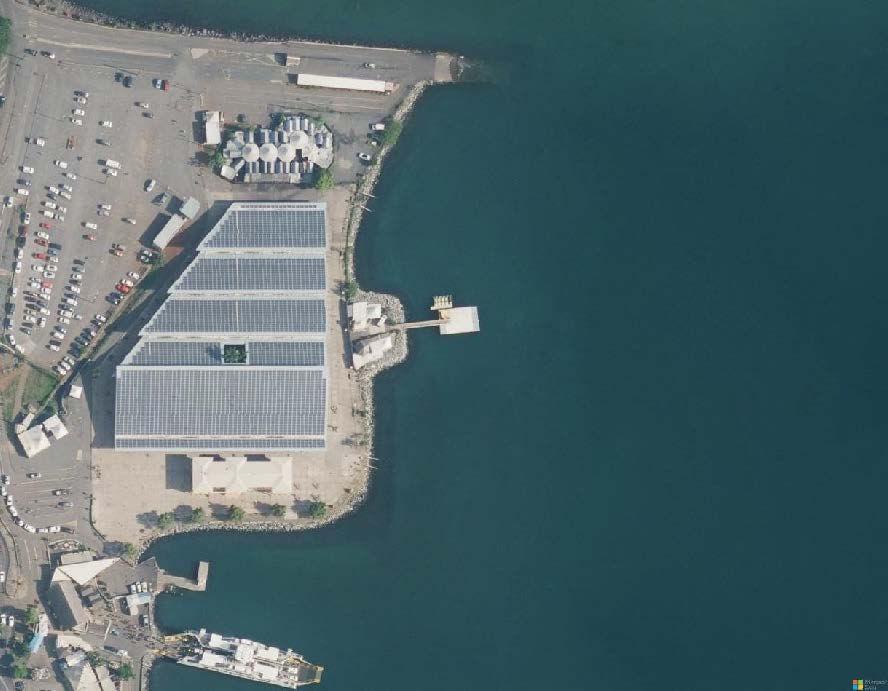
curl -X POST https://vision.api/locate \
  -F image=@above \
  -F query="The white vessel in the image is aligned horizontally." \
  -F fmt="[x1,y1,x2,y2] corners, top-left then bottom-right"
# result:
[157,629,324,688]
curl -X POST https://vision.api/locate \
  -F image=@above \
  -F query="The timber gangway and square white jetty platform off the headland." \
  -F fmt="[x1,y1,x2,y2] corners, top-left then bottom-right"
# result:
[391,306,480,335]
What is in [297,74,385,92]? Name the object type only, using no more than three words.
building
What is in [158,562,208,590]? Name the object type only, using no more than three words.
pier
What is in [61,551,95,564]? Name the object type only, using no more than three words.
building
